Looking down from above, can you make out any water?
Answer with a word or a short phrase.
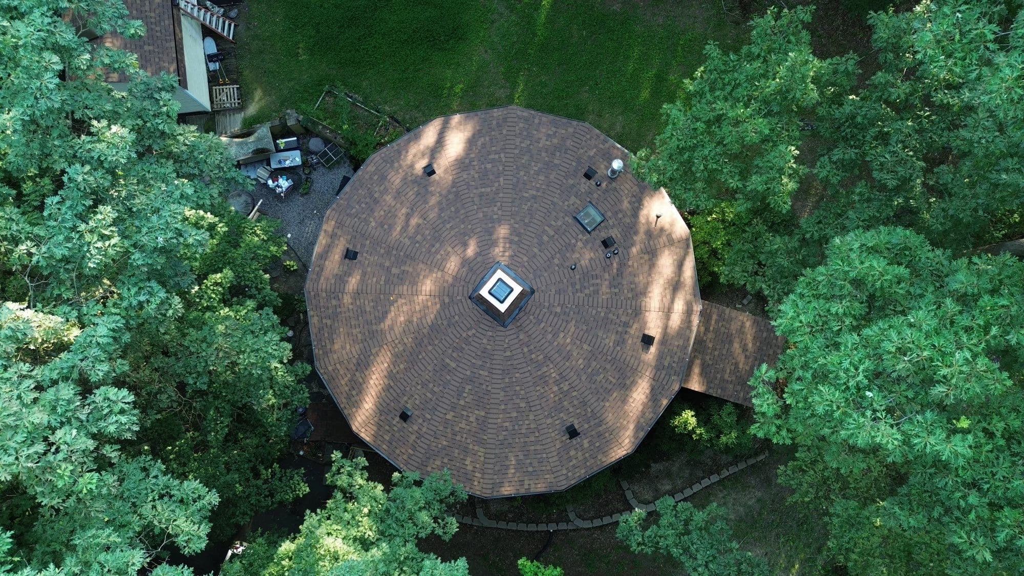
No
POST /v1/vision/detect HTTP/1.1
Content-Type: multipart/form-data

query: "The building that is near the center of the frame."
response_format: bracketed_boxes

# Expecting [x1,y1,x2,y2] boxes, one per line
[302,104,785,501]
